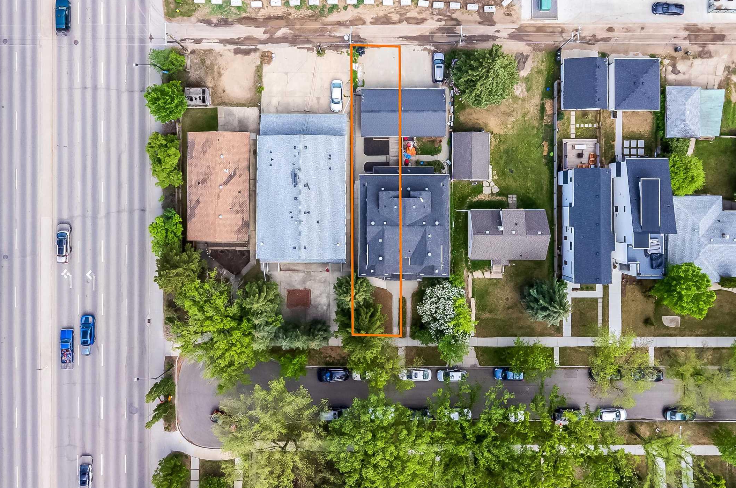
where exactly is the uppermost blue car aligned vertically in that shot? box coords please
[54,0,72,36]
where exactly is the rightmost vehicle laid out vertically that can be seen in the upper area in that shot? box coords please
[431,52,447,85]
